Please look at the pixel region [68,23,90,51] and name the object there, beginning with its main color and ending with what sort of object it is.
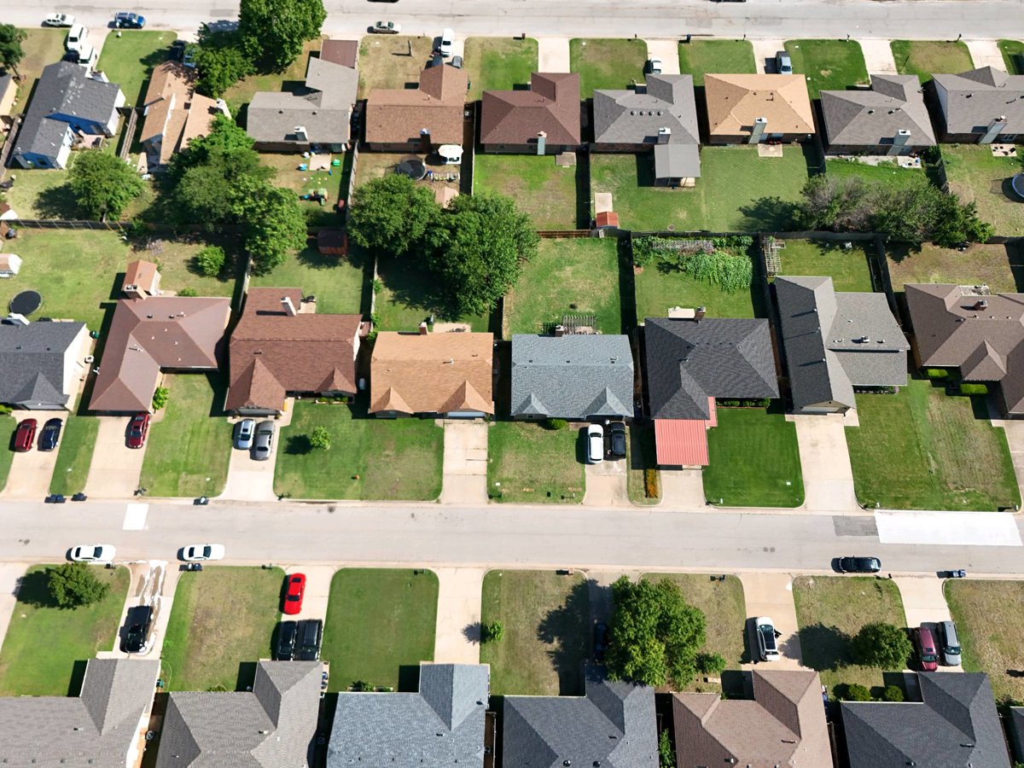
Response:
white vehicle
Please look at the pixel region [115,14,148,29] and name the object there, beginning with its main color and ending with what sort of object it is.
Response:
blue vehicle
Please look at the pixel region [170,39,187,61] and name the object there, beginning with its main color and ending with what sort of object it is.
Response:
black car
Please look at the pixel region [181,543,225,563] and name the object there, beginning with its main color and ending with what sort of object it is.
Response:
white car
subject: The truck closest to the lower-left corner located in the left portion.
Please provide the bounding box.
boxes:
[124,603,153,655]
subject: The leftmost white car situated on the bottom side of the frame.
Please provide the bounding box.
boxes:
[71,544,116,564]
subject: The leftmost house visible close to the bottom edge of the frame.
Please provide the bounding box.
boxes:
[0,657,167,768]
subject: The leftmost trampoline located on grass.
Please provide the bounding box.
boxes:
[10,290,44,315]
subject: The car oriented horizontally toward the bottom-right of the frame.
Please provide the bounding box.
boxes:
[835,555,880,575]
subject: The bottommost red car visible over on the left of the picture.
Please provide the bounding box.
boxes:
[284,573,306,615]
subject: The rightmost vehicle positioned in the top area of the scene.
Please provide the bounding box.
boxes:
[775,53,791,74]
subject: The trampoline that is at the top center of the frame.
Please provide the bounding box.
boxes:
[397,153,426,180]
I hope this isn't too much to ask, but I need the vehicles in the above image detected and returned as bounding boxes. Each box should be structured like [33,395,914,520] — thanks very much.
[934,621,963,665]
[115,14,148,29]
[82,44,104,73]
[181,543,225,563]
[284,573,306,615]
[170,39,187,61]
[274,619,299,661]
[452,55,464,71]
[234,417,256,451]
[754,617,783,661]
[11,418,40,453]
[298,619,322,662]
[71,544,116,564]
[68,23,90,51]
[372,22,401,35]
[586,427,604,463]
[38,418,64,452]
[429,55,443,67]
[650,58,663,74]
[65,48,82,65]
[127,415,151,449]
[775,53,791,74]
[440,32,454,56]
[609,422,627,457]
[46,13,76,28]
[910,627,939,671]
[835,555,880,575]
[254,421,276,460]
[182,46,199,67]
[124,603,153,655]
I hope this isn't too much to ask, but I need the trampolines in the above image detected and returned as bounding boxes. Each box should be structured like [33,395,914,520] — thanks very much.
[397,153,426,180]
[10,290,44,315]
[1010,167,1024,197]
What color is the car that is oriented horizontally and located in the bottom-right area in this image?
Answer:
black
